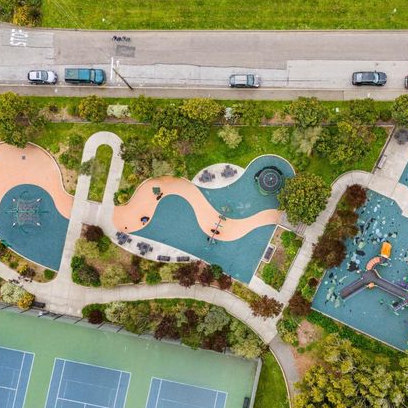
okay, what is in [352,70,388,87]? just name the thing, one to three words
car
